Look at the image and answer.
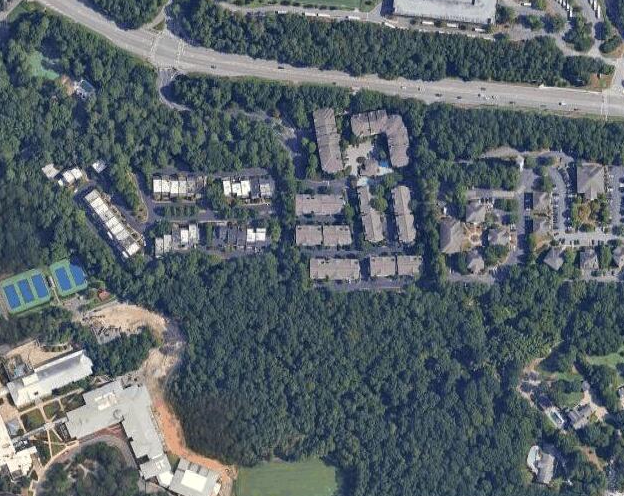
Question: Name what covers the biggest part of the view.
trees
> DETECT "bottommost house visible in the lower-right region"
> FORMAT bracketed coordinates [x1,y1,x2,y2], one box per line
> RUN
[537,454,553,482]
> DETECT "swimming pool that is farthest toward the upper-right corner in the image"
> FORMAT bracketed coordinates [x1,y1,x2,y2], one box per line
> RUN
[376,158,394,176]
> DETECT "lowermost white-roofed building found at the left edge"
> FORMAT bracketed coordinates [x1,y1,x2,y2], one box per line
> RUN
[4,445,37,478]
